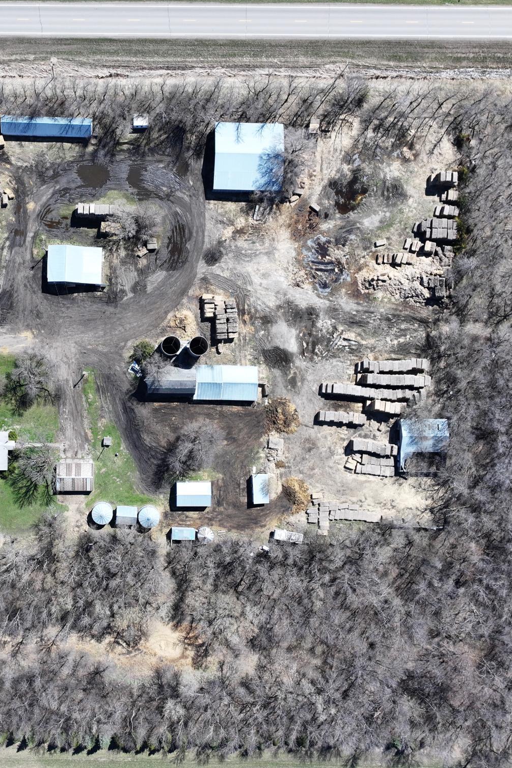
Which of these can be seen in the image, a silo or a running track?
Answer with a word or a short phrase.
silo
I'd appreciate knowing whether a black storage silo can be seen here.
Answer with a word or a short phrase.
Yes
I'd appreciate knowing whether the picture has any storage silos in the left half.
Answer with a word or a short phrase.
Yes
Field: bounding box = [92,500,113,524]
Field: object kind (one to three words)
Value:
silo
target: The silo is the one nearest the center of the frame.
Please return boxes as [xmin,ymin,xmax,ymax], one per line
[187,336,209,356]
